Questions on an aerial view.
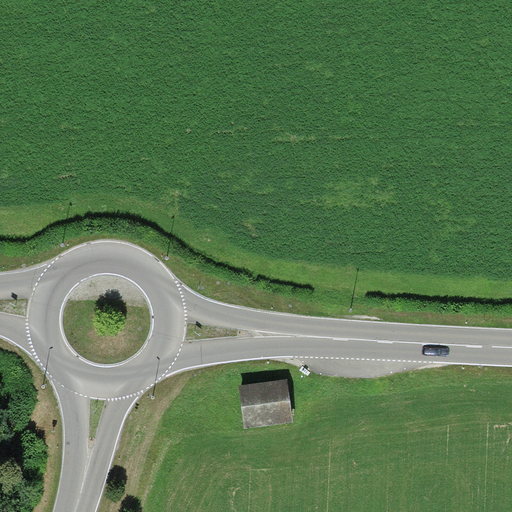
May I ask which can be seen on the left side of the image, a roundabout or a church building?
roundabout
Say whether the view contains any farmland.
Yes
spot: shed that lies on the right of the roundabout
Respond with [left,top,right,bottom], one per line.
[239,380,293,430]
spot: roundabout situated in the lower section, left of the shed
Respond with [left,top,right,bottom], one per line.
[26,239,188,400]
